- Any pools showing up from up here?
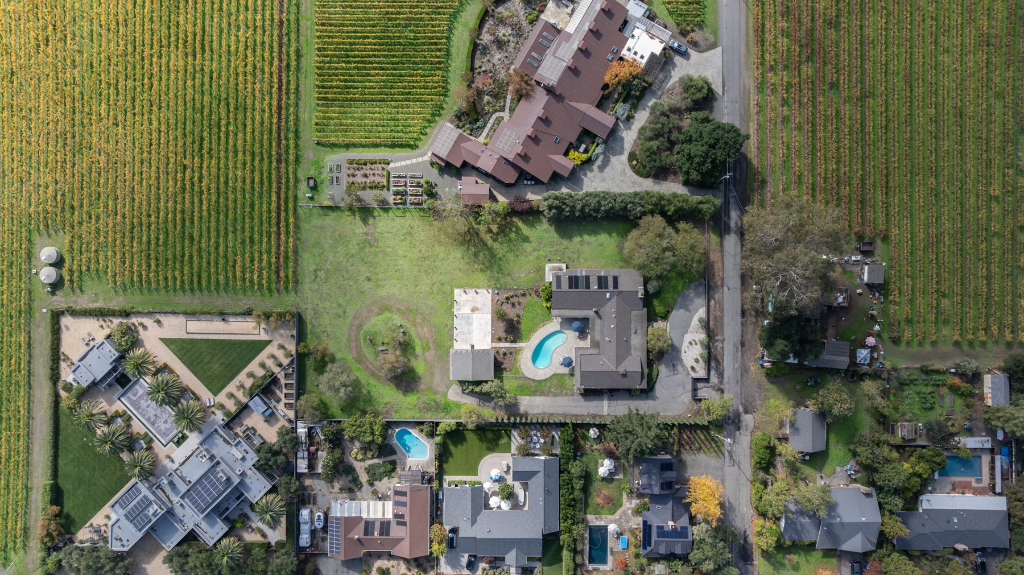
Yes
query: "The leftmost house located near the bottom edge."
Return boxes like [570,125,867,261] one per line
[109,423,276,551]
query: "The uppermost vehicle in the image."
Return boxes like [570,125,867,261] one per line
[669,38,688,52]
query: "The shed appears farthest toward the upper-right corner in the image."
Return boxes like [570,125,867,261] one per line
[862,265,884,283]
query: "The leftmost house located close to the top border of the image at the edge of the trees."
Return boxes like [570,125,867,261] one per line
[487,0,629,183]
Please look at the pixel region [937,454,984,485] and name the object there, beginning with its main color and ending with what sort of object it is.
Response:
blue swimming pool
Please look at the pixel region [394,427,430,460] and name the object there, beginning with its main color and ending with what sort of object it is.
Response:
blue swimming pool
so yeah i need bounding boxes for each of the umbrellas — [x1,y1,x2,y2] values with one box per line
[500,499,511,510]
[489,496,500,506]
[562,356,572,367]
[603,457,614,469]
[598,466,608,476]
[588,427,599,437]
[608,522,619,533]
[864,336,874,346]
[483,481,493,491]
[490,467,500,477]
[571,321,582,332]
